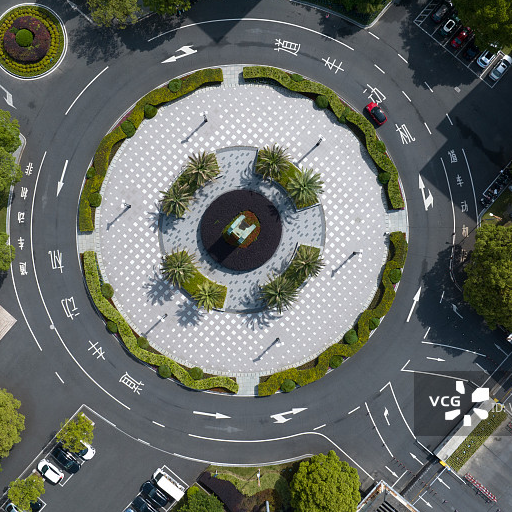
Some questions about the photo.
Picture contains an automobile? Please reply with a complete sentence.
Yes, an automobile appears in the view.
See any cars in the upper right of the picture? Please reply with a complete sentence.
Yes, a car appears in the upper right of the picture.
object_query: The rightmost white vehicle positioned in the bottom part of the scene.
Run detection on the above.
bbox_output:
[149,469,188,509]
